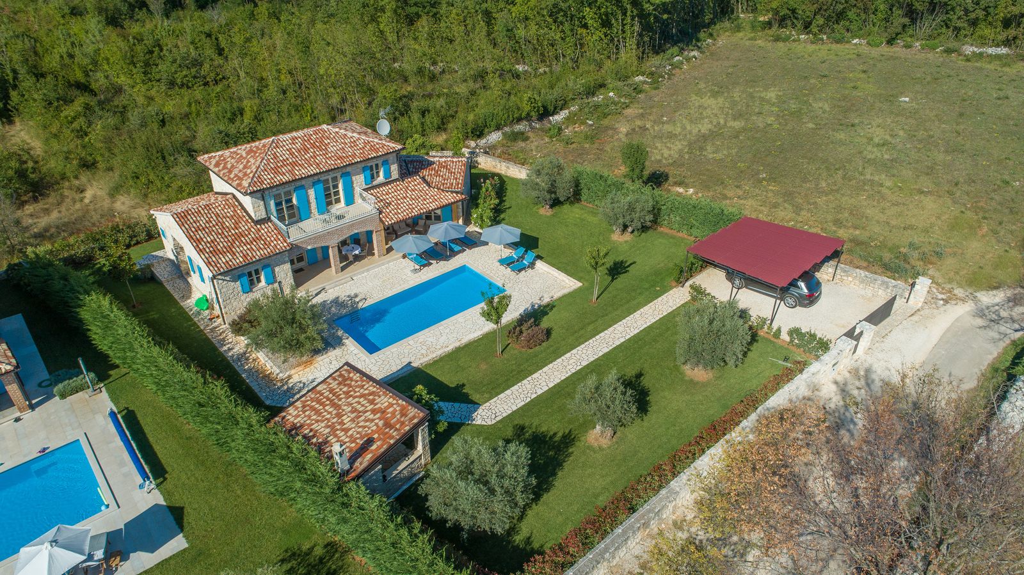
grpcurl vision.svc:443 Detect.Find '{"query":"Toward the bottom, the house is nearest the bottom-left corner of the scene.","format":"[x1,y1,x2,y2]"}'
[0,329,34,412]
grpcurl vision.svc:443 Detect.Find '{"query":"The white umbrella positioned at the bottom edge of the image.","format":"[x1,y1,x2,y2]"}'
[21,532,94,575]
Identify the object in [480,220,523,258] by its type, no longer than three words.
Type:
umbrella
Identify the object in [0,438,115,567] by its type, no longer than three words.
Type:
swimming pool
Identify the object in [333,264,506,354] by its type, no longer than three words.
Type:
swimming pool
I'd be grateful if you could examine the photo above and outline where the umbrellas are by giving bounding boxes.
[424,217,469,257]
[480,220,523,258]
[21,532,94,575]
[389,231,435,274]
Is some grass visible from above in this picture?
Yes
